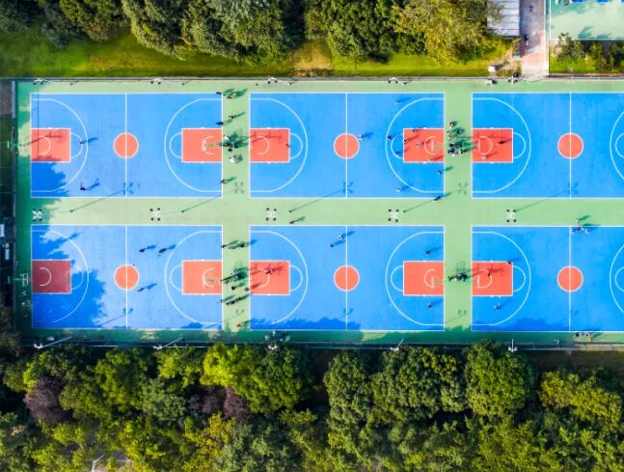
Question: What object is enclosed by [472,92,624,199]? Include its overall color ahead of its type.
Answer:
blue basketball court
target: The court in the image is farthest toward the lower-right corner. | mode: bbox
[471,226,624,332]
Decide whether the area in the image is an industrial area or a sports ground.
sports ground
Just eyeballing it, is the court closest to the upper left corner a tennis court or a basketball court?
basketball court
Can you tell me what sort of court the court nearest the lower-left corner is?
basketball court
